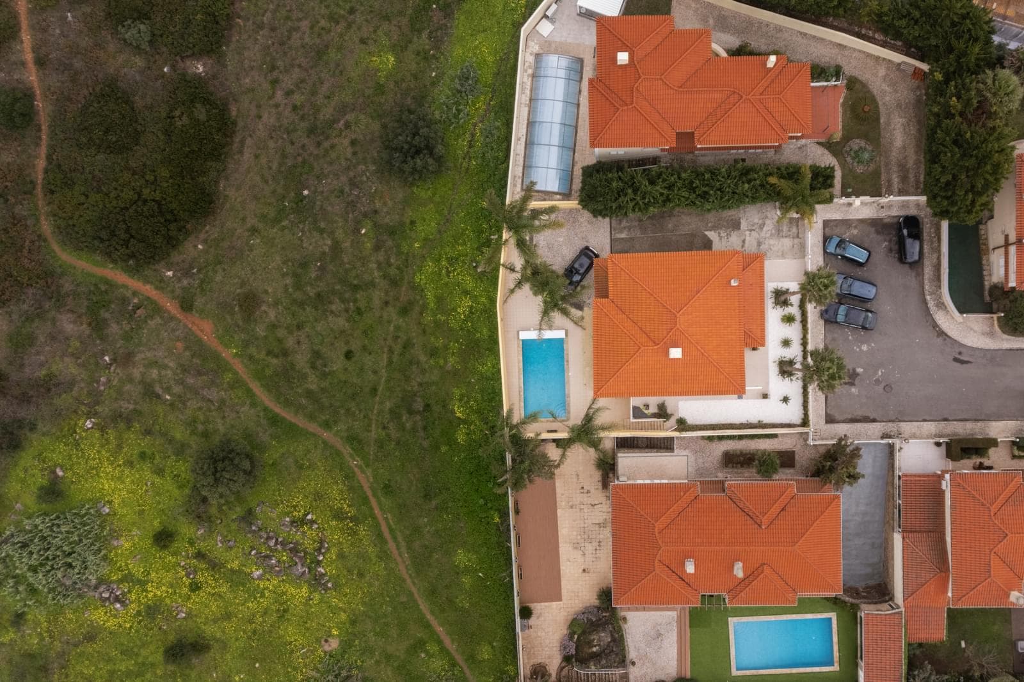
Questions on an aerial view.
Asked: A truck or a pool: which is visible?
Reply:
pool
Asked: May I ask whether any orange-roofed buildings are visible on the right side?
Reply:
Yes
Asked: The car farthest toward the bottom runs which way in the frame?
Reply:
from side to side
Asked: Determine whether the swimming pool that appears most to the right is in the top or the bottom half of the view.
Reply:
bottom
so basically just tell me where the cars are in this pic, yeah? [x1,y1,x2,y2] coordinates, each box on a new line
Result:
[820,304,878,329]
[894,216,924,265]
[829,272,882,302]
[823,236,872,265]
[563,243,603,295]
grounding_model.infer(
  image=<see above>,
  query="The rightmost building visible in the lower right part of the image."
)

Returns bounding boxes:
[896,469,1024,643]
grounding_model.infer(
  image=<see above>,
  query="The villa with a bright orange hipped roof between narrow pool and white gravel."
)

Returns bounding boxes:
[590,250,767,399]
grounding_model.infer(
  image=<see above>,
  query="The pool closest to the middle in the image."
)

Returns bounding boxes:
[517,327,570,423]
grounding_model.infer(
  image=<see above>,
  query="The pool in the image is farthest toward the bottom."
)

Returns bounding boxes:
[728,613,839,676]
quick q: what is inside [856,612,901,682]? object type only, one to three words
shed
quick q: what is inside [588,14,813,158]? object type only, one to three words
house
